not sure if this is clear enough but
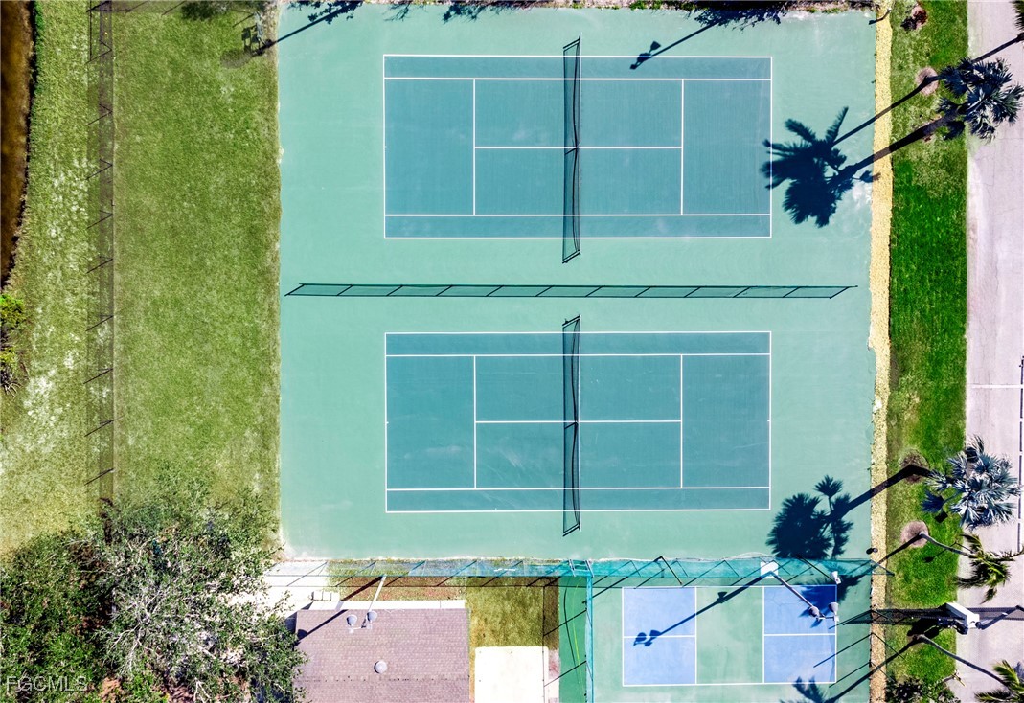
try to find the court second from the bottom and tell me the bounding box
[278,290,876,559]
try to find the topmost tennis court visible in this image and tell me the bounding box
[277,7,877,290]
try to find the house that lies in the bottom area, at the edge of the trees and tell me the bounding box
[295,600,469,703]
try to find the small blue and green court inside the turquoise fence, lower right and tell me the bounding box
[586,560,871,703]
